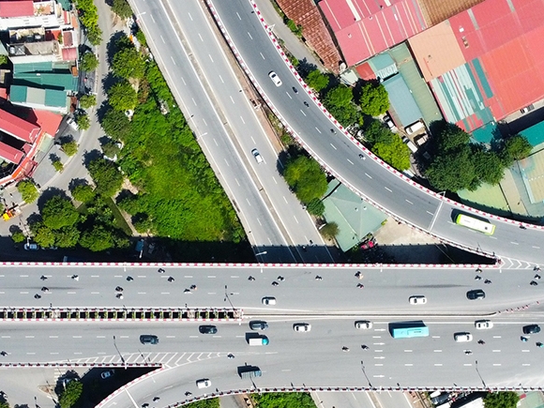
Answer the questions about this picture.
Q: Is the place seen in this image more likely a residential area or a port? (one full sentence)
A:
The picture captures a residential area.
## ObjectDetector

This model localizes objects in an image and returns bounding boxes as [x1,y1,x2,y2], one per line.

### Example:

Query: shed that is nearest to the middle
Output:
[323,186,388,253]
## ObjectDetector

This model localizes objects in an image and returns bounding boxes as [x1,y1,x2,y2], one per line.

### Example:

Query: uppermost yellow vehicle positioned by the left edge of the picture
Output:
[0,201,29,222]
